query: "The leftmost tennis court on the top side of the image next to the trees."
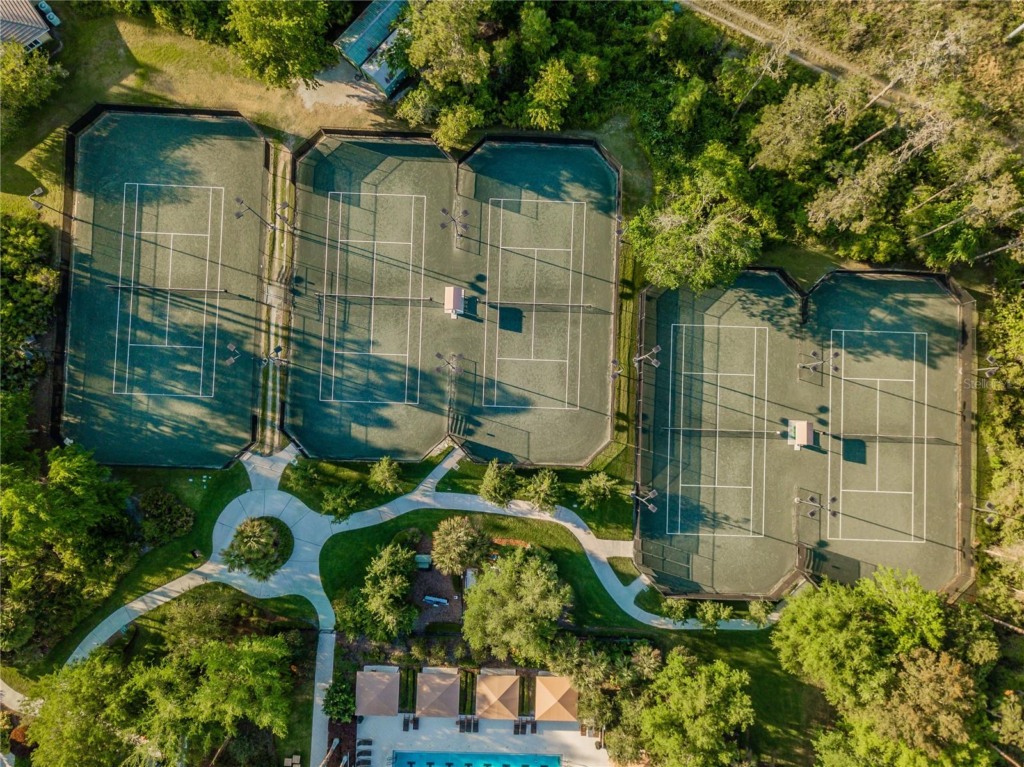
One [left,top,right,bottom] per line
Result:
[60,113,263,467]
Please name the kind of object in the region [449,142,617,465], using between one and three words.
tennis court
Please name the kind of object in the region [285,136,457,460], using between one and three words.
tennis court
